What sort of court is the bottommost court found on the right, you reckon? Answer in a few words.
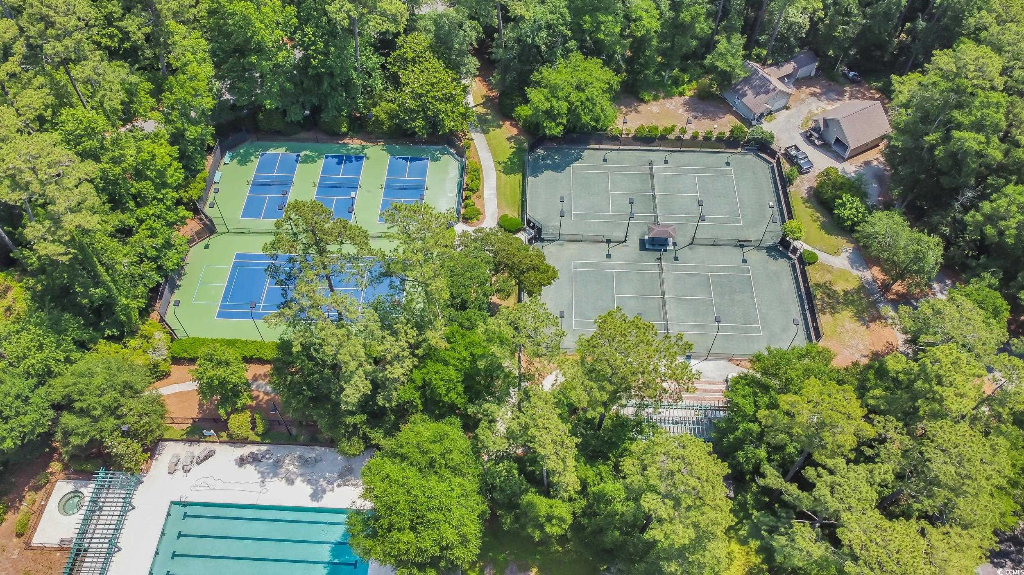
tennis court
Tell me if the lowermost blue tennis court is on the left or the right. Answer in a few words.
left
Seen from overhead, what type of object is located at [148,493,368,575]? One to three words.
swimming pool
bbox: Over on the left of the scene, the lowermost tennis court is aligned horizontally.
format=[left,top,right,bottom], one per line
[187,253,405,327]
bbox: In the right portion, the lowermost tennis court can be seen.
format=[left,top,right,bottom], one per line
[522,240,810,358]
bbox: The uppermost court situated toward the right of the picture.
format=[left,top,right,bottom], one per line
[526,147,783,246]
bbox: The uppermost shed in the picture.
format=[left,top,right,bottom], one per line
[760,45,824,87]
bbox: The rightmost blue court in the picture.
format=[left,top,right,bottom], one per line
[377,155,430,223]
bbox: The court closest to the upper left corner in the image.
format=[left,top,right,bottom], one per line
[239,152,300,220]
